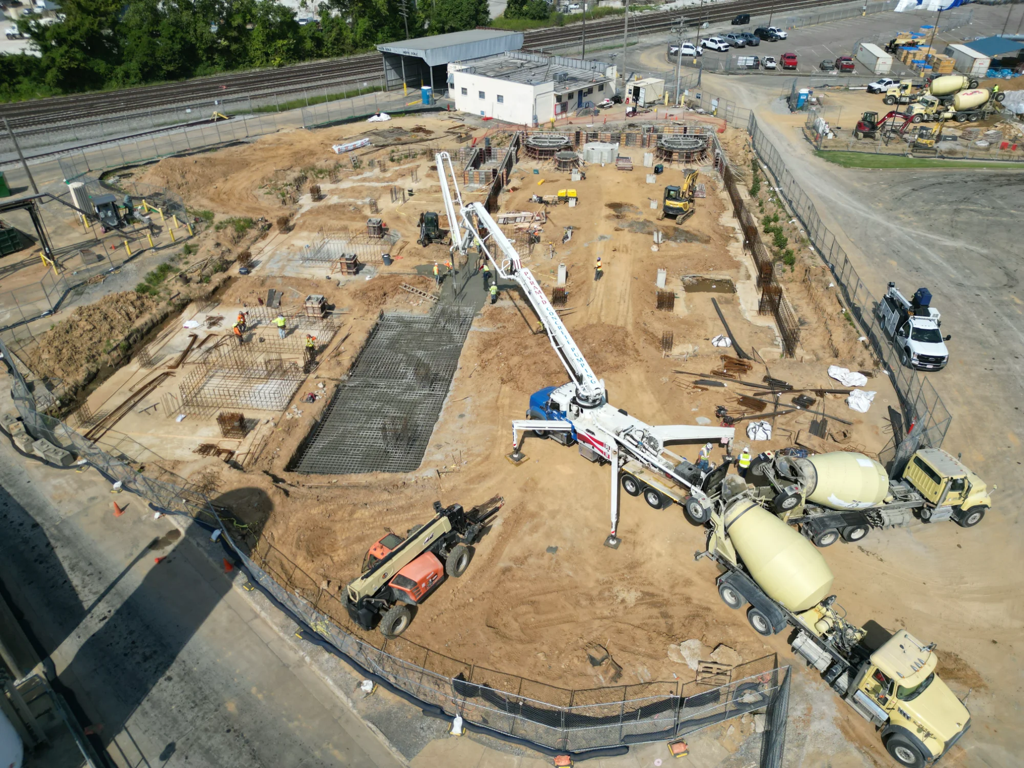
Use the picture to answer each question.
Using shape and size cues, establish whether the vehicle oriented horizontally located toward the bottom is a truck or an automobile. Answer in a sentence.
The vehicle oriented horizontally located toward the bottom in the image is a truck.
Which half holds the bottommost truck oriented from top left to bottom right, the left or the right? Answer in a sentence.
The bottommost truck oriented from top left to bottom right sits on the right side.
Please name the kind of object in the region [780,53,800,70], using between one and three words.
vehicle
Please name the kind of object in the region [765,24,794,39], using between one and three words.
car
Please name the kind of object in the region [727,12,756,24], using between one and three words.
vehicle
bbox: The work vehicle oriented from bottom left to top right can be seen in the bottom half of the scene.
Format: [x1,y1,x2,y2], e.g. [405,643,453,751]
[335,494,496,644]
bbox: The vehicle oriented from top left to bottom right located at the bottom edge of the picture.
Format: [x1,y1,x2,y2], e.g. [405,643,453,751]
[667,481,980,768]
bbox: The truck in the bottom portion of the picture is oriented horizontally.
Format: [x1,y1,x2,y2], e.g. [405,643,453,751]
[750,442,1001,544]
